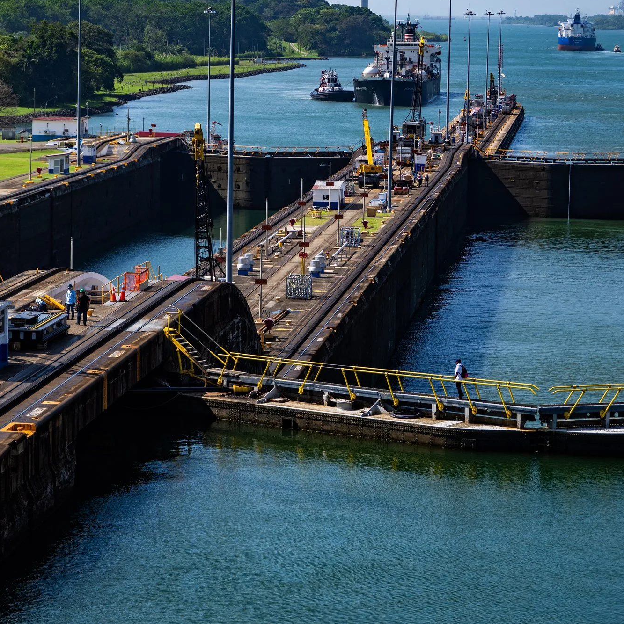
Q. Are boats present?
Yes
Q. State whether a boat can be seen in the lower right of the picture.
No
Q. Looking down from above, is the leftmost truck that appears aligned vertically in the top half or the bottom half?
top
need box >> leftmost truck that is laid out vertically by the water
[351,103,389,187]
